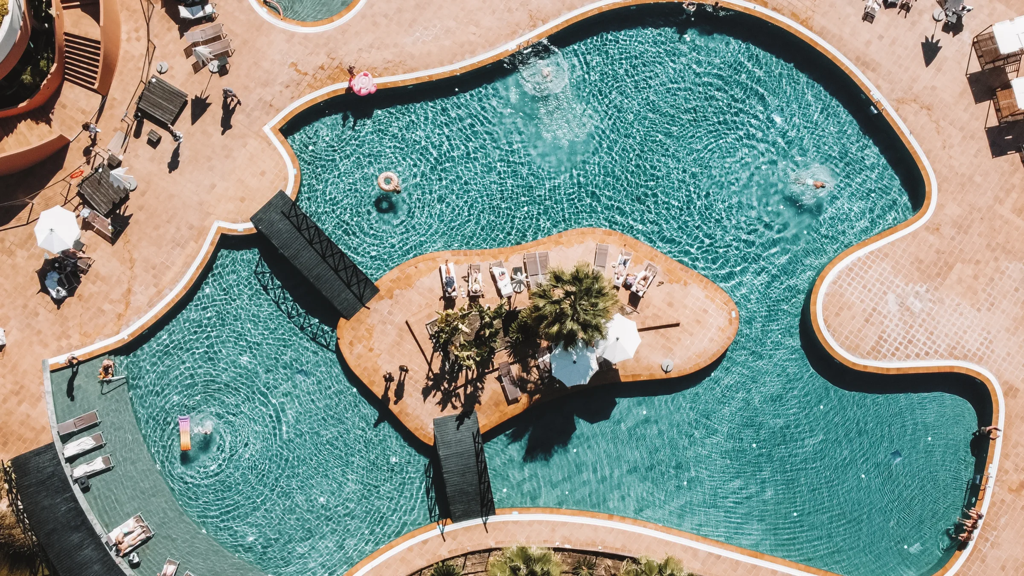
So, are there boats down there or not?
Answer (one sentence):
No, the frame has no boat in it.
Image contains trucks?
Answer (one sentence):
No, no truck is visible in the scene.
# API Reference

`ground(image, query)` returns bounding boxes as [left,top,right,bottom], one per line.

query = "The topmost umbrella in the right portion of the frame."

[933,0,963,21]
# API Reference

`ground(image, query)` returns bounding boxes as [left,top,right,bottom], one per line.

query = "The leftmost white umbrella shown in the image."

[34,208,85,257]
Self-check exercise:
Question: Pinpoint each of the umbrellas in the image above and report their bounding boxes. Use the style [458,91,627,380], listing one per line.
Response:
[505,273,530,299]
[933,0,963,21]
[109,168,139,190]
[34,208,85,257]
[549,342,599,387]
[193,45,221,72]
[593,314,641,363]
